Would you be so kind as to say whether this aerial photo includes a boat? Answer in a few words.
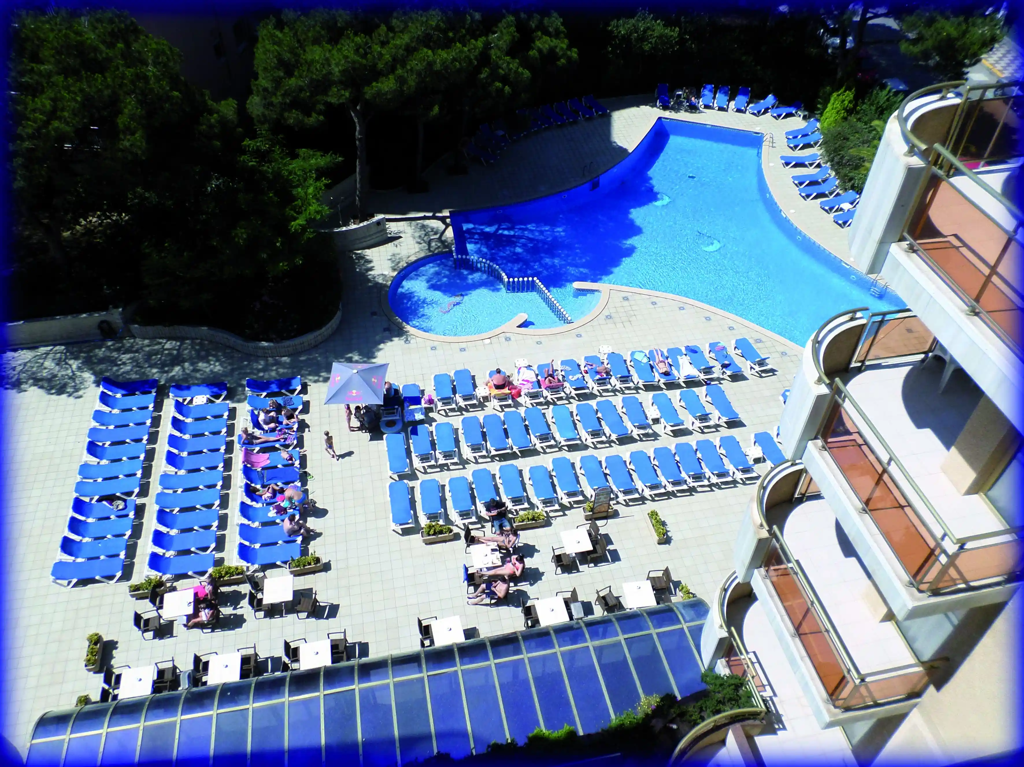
No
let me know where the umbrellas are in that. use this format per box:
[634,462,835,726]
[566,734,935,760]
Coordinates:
[323,362,390,416]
